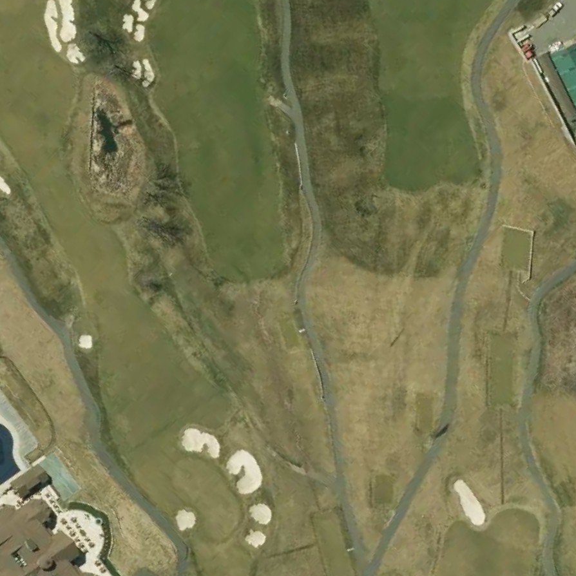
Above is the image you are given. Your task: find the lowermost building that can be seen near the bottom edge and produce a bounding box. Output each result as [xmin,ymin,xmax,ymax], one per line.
[0,497,83,576]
